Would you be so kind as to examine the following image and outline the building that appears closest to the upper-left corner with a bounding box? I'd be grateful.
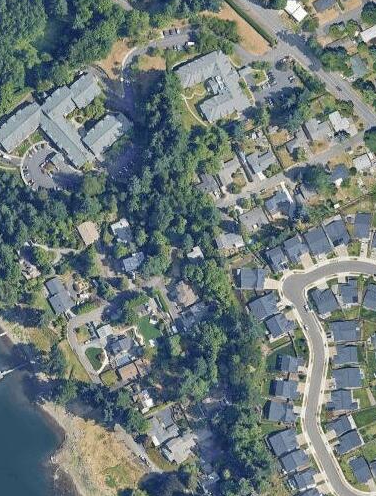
[0,71,125,170]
